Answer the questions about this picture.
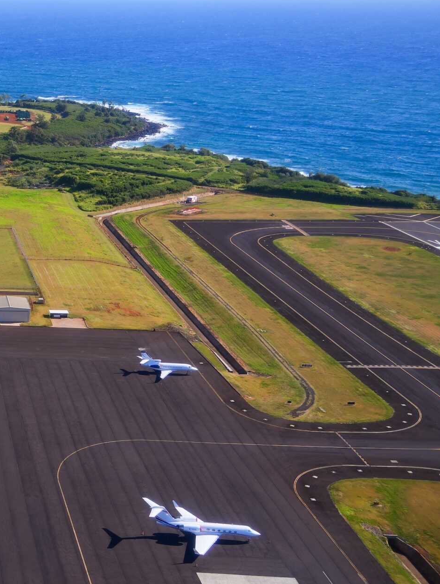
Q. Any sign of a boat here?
No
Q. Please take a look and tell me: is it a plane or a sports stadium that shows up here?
plane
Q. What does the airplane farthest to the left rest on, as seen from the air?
apron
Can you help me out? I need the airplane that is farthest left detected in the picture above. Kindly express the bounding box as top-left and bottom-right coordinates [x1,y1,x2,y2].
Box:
[142,352,198,377]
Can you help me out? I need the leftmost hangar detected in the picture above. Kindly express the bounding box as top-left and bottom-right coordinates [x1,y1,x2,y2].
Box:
[0,298,31,322]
